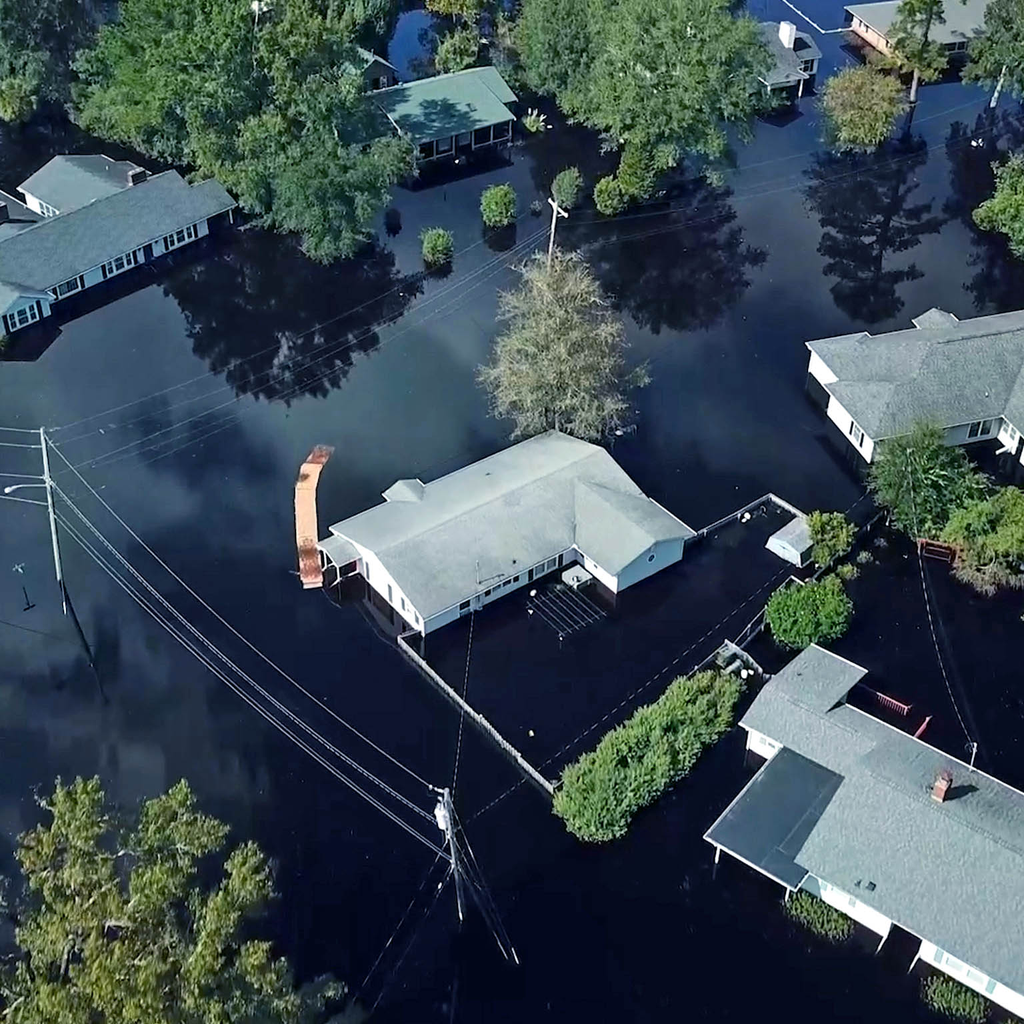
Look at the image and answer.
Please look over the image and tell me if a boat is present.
No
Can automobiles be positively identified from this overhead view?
No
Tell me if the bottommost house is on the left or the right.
right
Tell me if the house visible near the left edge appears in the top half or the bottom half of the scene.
top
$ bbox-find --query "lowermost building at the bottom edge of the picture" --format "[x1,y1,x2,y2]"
[703,643,1024,1020]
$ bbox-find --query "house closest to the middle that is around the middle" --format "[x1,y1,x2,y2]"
[313,428,697,635]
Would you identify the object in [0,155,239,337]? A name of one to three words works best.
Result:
house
